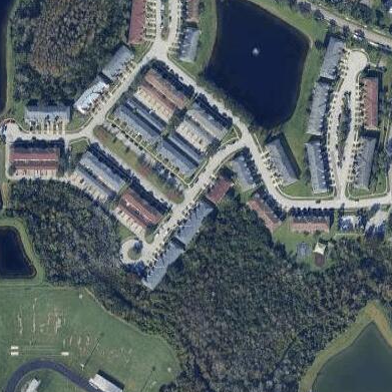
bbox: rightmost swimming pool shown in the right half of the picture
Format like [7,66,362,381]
[341,216,356,230]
